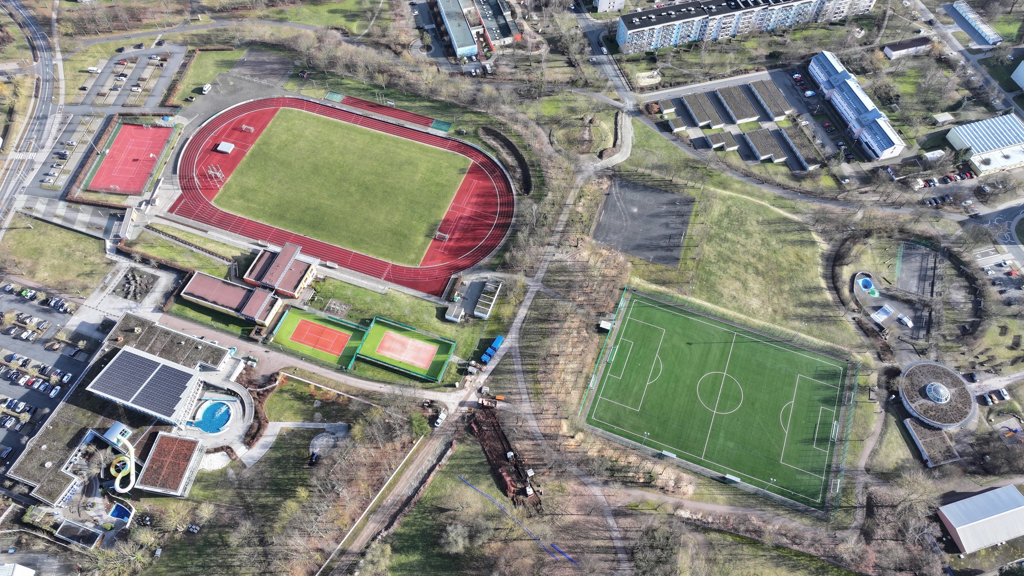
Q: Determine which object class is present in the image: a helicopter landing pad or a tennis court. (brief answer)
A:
tennis court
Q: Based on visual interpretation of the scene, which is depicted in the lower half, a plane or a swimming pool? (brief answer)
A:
swimming pool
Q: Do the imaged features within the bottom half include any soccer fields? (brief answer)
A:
Yes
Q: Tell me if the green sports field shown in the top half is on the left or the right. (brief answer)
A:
left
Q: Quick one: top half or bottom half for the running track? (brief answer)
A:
top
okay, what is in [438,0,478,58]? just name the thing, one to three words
building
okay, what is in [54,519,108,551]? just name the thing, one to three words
shed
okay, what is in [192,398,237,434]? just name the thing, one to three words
swimming pool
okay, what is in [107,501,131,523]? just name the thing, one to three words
swimming pool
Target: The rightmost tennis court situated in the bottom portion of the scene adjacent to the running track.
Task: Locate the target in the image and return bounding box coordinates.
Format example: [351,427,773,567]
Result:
[358,320,455,380]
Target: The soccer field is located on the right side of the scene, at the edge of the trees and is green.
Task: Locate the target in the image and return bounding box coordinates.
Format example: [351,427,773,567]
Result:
[577,286,860,521]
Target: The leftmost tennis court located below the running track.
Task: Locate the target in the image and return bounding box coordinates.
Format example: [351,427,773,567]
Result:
[272,308,367,369]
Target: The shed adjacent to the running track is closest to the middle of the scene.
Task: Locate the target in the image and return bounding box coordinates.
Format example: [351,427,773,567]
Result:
[474,278,502,320]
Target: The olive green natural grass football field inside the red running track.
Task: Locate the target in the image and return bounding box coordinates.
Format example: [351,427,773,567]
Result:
[212,109,471,265]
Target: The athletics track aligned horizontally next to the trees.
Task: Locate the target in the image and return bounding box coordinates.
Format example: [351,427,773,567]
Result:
[167,97,514,298]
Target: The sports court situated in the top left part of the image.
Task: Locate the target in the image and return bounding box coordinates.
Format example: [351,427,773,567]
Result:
[81,121,174,193]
